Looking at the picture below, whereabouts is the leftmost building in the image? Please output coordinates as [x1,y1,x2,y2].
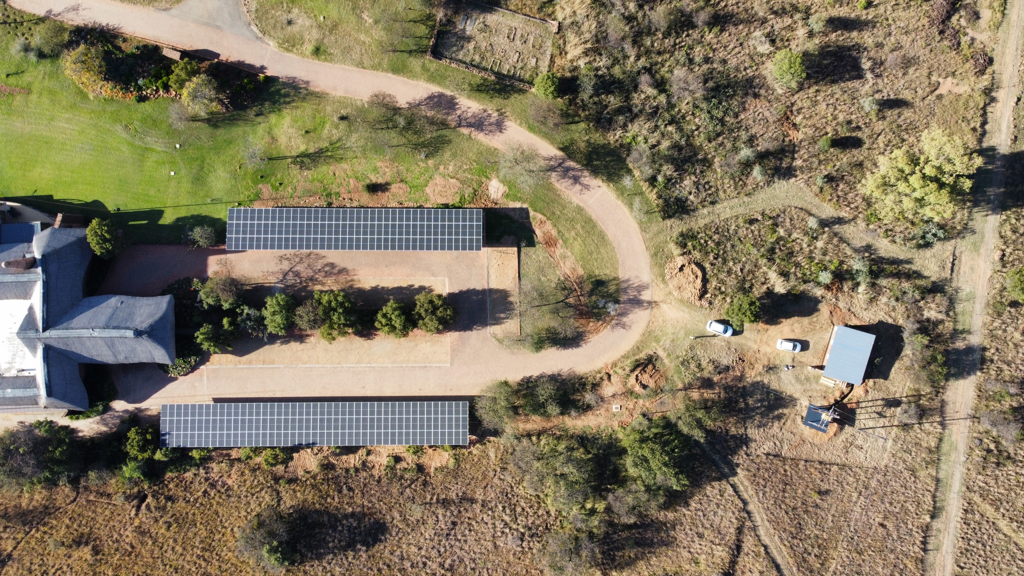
[0,216,176,413]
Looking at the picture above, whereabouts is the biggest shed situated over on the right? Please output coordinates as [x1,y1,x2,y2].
[812,325,876,386]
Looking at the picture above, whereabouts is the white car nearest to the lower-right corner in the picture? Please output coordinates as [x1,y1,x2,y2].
[776,339,801,353]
